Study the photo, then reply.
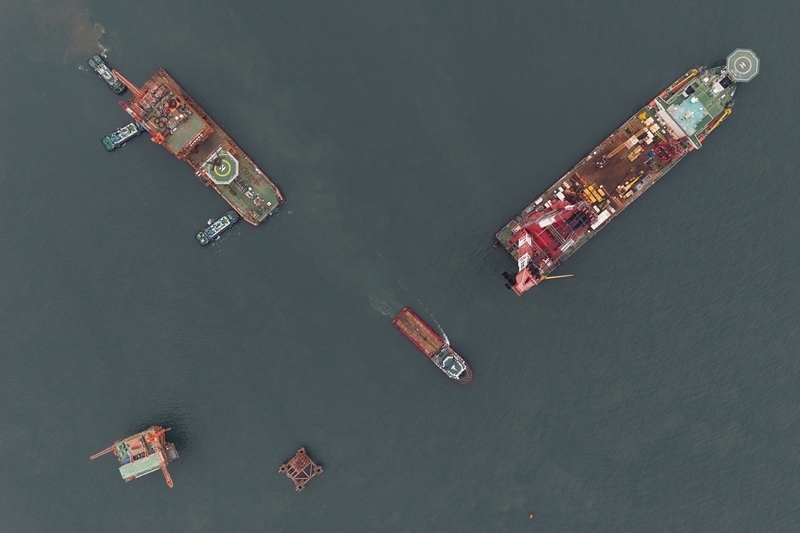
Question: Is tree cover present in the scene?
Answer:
No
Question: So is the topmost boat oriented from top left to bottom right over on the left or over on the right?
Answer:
left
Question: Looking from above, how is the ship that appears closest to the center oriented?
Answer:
at an angle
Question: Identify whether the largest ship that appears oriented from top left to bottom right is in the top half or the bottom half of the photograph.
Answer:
top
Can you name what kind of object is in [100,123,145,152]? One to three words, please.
boat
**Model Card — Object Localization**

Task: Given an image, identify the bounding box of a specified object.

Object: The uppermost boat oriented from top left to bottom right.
[88,54,126,94]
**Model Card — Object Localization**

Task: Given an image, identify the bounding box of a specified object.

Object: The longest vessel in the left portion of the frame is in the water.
[109,69,285,225]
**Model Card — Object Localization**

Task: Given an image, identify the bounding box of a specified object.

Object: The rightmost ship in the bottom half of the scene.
[394,309,470,383]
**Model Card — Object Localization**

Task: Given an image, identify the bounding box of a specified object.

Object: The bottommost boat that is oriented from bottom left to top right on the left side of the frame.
[197,211,240,245]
